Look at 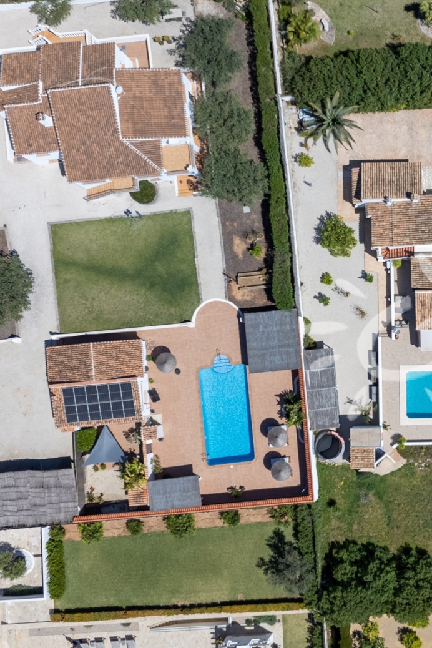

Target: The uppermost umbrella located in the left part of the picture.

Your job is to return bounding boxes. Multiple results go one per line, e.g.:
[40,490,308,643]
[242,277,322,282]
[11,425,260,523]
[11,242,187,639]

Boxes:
[155,352,177,374]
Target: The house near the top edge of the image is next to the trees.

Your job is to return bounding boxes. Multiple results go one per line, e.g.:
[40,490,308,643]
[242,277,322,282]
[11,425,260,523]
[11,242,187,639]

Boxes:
[0,25,204,200]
